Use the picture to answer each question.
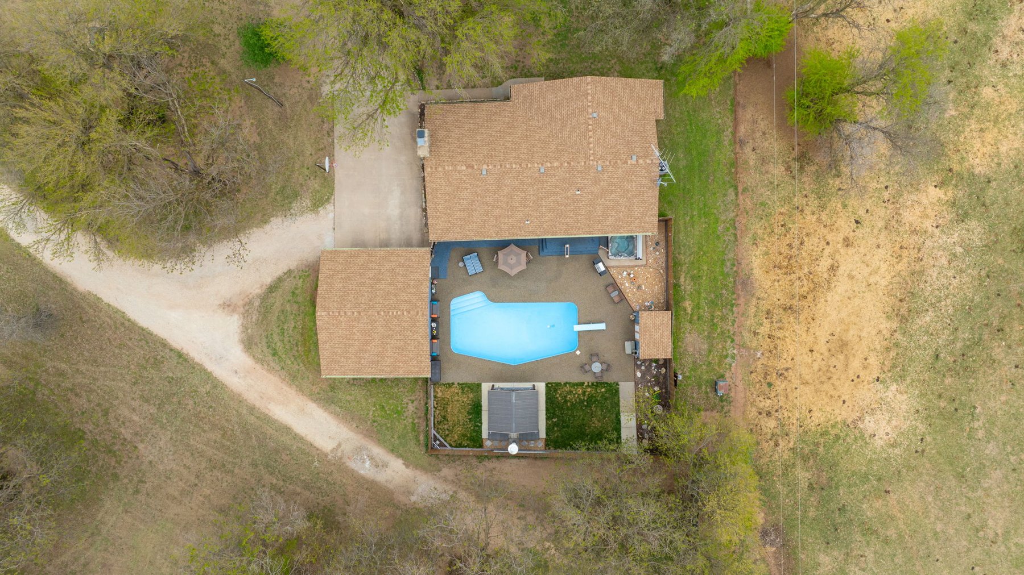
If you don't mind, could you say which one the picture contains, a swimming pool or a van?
swimming pool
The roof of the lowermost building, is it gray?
Yes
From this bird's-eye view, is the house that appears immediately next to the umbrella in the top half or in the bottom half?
top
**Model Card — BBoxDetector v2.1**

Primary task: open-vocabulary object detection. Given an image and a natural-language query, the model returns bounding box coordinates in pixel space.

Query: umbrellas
[498,244,526,276]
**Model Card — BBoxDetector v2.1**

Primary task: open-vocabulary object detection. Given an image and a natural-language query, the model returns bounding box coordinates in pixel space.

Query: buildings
[418,75,665,243]
[633,311,672,359]
[316,246,432,379]
[488,385,539,442]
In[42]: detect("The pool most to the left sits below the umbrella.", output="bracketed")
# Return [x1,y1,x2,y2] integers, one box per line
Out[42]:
[450,290,579,365]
